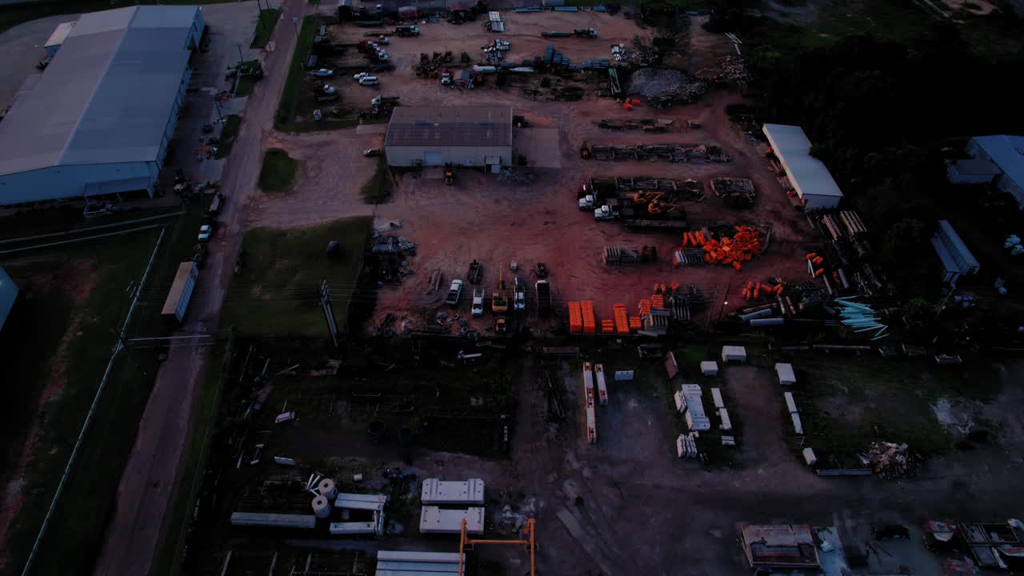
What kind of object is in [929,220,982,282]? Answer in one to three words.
trailer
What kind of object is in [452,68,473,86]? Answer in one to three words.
shed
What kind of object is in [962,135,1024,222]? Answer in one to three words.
building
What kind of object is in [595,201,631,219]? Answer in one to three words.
vehicle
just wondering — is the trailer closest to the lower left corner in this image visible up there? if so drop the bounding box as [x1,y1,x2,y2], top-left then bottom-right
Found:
[158,259,199,329]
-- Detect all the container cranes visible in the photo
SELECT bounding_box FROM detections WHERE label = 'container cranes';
[458,515,536,576]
